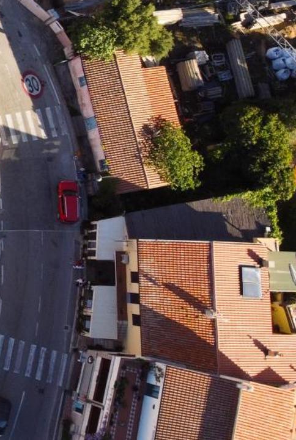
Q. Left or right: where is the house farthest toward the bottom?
right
